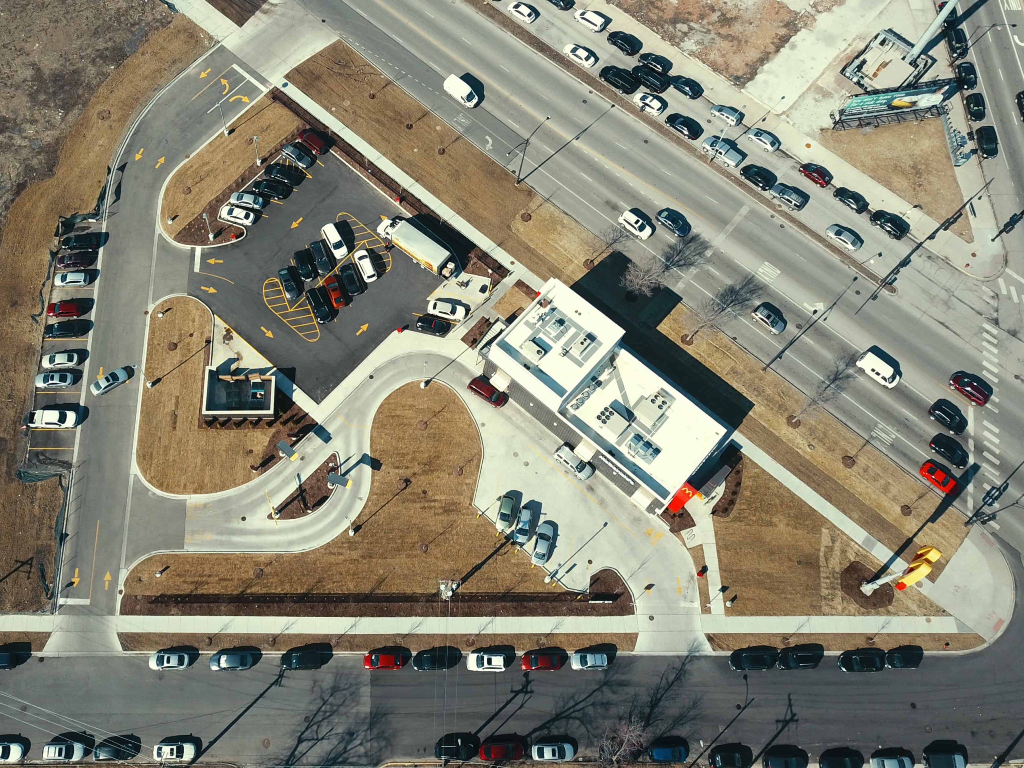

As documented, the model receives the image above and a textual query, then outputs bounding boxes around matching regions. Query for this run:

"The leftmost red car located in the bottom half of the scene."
[364,652,401,671]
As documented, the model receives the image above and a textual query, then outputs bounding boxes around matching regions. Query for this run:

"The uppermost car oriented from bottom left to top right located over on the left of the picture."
[90,367,128,398]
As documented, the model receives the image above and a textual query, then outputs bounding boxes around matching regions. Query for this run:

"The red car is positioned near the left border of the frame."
[47,302,81,319]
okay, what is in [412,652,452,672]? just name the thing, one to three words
car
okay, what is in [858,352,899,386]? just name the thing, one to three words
van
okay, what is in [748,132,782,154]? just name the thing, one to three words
car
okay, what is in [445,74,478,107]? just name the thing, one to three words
van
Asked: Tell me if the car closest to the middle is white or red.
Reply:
red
